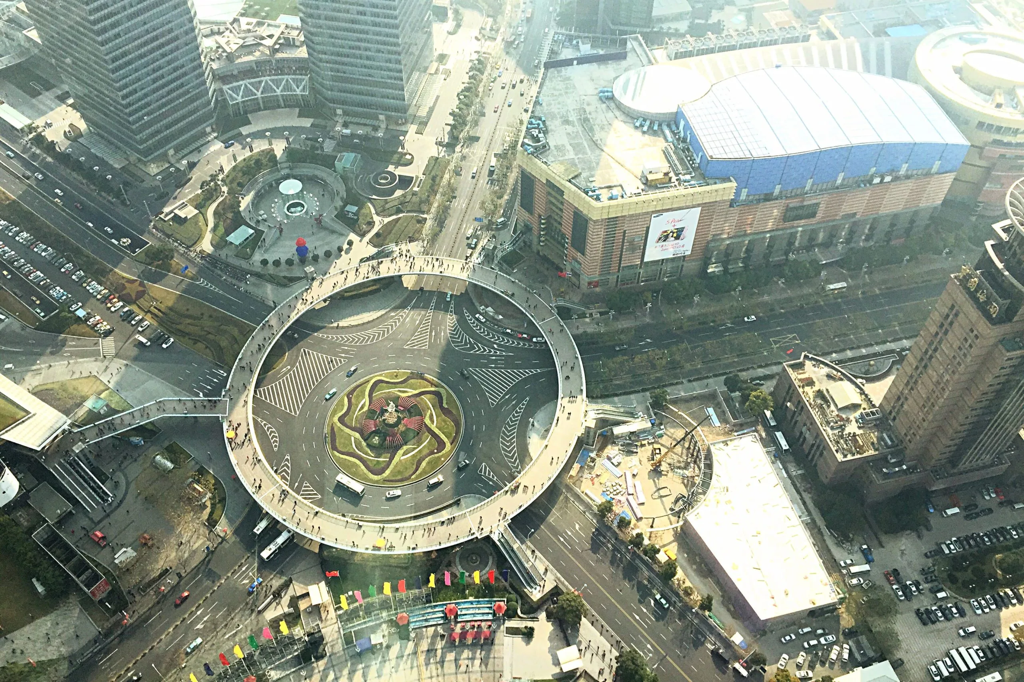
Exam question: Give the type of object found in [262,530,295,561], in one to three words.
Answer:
bus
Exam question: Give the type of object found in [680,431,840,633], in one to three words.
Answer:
shed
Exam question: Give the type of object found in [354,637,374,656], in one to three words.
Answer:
tent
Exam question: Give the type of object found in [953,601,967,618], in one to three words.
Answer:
car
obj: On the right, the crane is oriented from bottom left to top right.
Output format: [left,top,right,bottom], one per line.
[644,414,713,470]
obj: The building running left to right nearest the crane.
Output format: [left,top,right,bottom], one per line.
[608,417,656,442]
